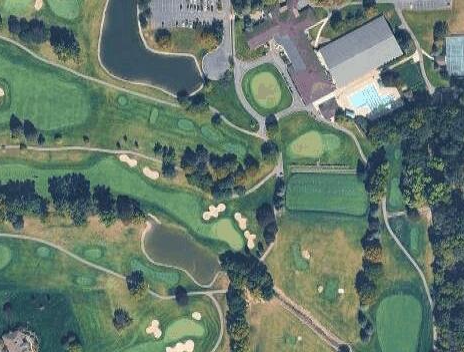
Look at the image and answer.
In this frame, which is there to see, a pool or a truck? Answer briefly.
pool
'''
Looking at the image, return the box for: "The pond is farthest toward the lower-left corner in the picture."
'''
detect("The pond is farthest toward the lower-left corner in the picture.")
[144,221,222,286]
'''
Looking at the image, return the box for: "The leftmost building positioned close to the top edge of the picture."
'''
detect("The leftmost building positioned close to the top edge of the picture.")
[246,0,340,107]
